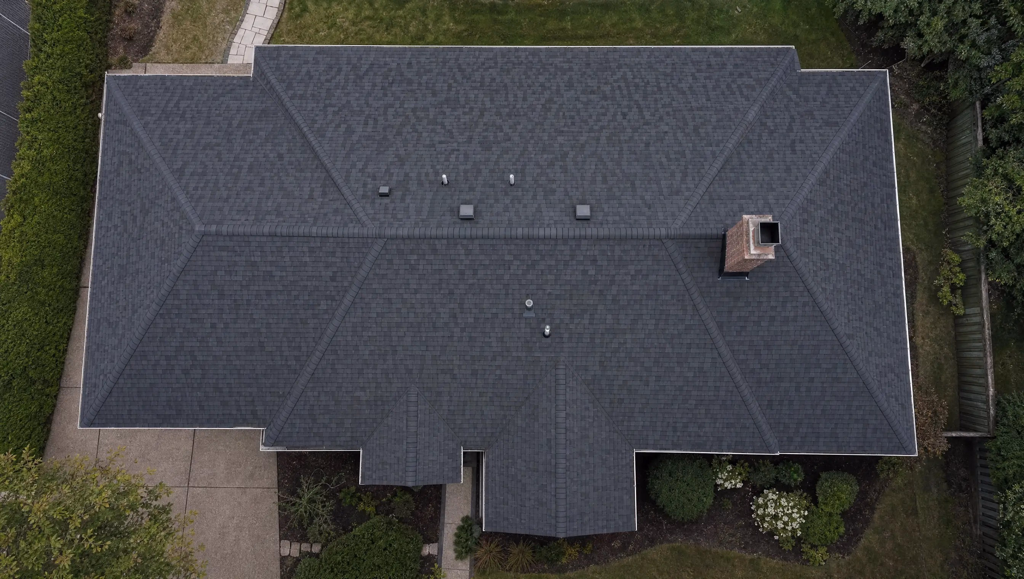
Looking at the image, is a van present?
No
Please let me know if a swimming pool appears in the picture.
No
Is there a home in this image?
Yes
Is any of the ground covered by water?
No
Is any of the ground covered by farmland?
No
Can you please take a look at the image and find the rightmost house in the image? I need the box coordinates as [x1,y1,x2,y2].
[79,46,917,540]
